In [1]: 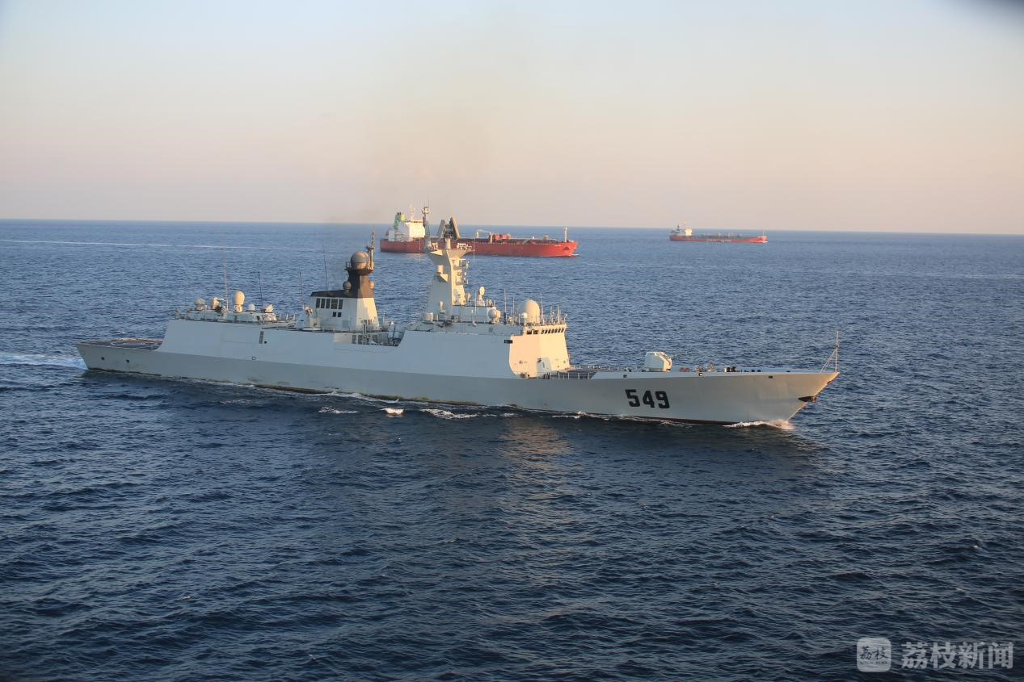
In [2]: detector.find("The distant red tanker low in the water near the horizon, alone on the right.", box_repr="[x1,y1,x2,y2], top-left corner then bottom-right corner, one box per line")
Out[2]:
[668,227,768,243]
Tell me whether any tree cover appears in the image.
No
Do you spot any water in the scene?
Yes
